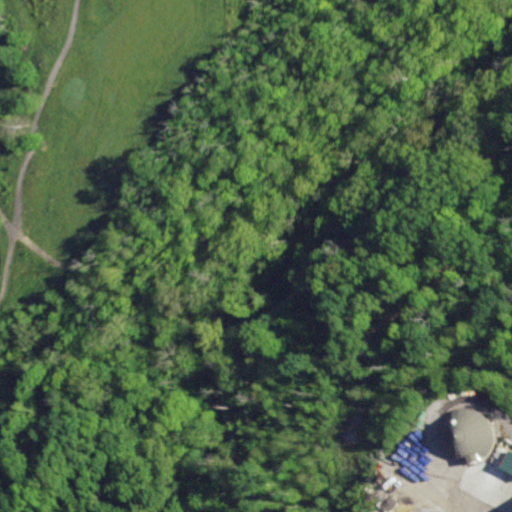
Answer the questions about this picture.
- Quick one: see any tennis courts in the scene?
No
